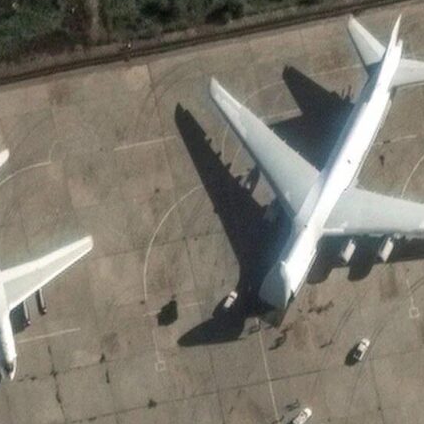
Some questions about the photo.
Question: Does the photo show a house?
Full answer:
No, the scene contains no house.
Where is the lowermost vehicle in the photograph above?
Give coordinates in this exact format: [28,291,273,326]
[293,411,313,424]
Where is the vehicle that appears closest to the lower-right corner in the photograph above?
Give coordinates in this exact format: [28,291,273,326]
[352,340,369,362]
